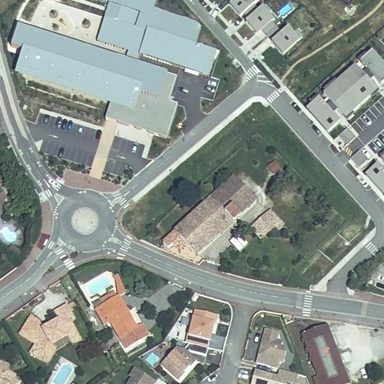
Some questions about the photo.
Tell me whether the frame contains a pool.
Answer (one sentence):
Yes, this view includes a pool.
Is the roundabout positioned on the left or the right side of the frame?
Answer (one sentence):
It is on the left.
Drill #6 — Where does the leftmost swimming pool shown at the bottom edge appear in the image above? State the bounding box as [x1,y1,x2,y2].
[51,360,74,384]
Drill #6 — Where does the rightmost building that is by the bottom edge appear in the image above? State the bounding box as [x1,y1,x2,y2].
[300,322,351,384]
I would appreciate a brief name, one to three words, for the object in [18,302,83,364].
house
